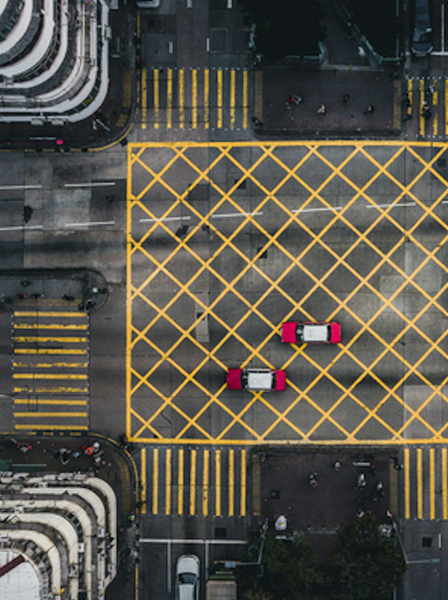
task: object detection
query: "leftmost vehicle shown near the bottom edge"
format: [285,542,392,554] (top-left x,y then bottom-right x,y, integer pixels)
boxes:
[174,551,200,600]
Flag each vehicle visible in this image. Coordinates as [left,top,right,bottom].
[174,551,200,600]
[280,319,343,347]
[137,0,161,10]
[208,551,240,600]
[225,365,288,393]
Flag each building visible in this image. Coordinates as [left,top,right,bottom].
[0,0,118,130]
[0,468,124,600]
